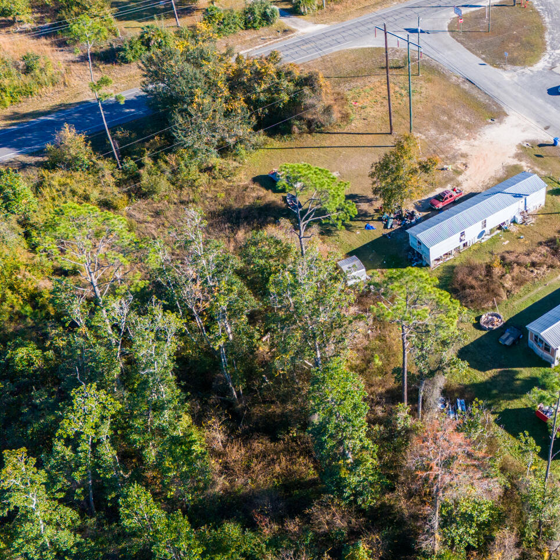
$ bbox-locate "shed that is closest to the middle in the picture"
[332,253,367,284]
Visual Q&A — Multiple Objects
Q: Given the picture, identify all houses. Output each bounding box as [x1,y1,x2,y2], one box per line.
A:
[404,173,550,266]
[524,303,560,365]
